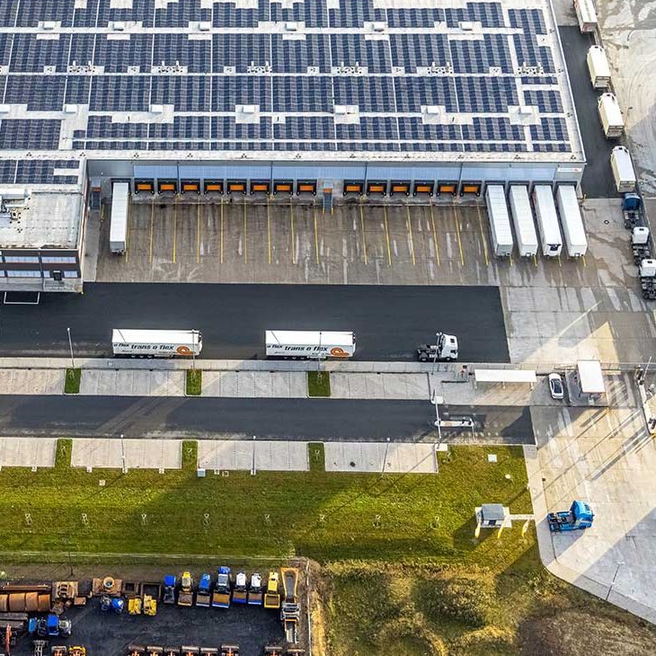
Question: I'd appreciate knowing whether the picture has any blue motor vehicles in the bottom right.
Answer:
Yes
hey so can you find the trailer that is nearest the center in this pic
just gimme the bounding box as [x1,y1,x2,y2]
[265,327,358,356]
